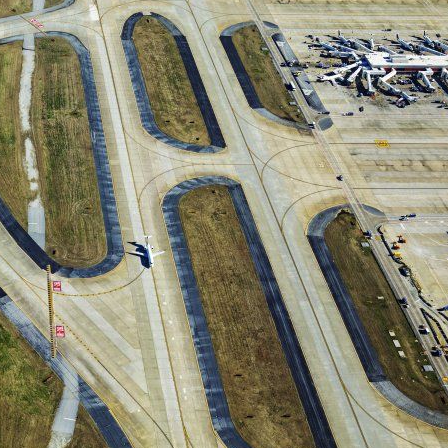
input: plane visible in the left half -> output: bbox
[130,233,166,266]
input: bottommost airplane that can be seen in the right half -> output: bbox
[317,69,346,81]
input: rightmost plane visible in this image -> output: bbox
[414,29,435,47]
